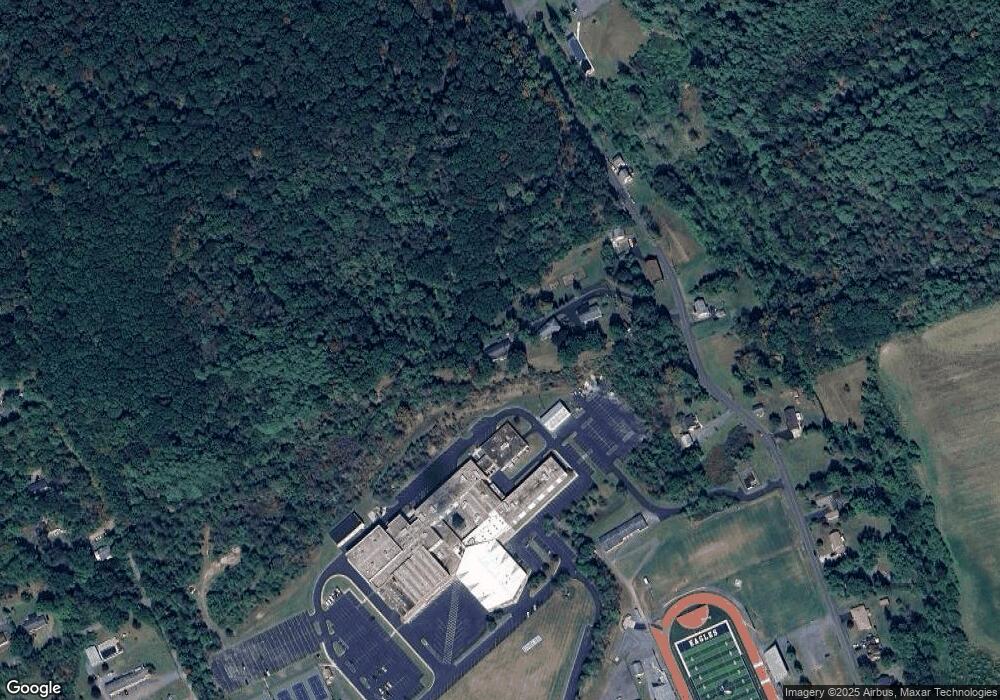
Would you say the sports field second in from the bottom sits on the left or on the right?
right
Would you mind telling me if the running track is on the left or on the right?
right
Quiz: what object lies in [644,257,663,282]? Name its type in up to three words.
house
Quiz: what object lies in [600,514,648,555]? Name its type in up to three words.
shed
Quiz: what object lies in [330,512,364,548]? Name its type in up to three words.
shed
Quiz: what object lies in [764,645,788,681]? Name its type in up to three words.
building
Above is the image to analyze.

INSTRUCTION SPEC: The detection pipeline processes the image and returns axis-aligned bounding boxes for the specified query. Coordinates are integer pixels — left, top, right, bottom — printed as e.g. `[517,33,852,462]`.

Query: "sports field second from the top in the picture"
[717,543,826,639]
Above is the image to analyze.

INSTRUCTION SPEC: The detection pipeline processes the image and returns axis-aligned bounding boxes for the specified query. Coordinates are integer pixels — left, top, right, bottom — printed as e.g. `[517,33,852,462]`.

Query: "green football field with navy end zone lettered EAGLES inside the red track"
[669,603,767,700]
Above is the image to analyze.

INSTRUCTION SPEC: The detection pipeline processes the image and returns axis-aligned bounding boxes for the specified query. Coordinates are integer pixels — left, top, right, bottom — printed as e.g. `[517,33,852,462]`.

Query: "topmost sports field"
[636,491,798,590]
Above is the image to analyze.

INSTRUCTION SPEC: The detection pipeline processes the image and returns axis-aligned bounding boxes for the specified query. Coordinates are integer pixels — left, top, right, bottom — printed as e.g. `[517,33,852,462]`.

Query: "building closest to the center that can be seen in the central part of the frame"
[484,338,511,362]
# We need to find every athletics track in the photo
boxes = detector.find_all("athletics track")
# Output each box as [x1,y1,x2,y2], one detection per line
[657,592,779,700]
